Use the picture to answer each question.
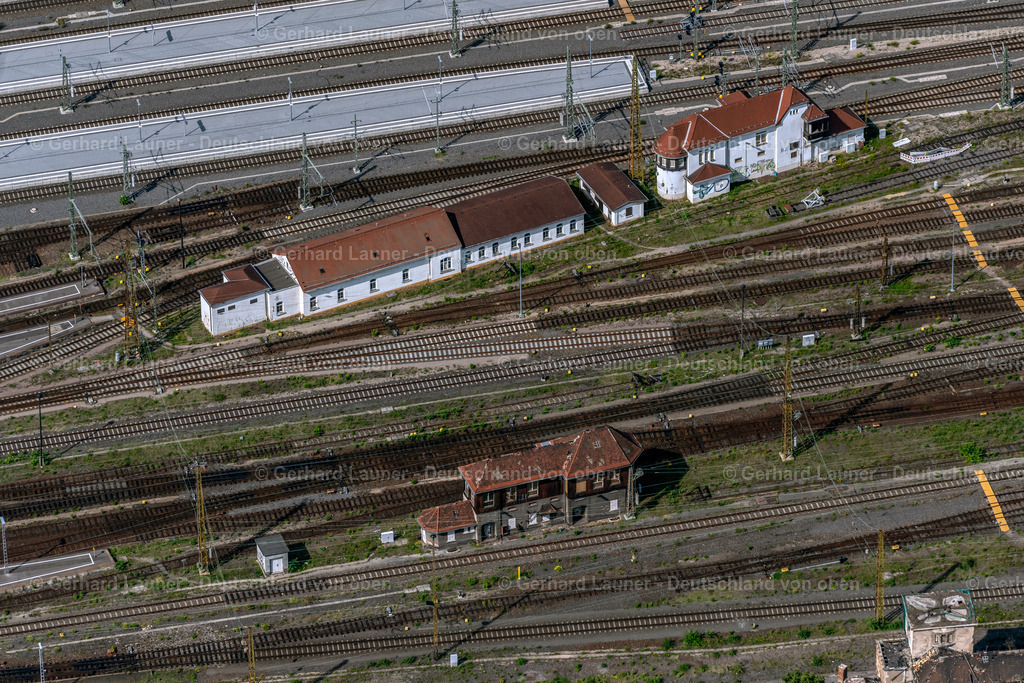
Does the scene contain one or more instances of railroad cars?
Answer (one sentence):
No, no railroad car can be seen from above.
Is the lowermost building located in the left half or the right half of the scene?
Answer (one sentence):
You can find the lowermost building on the right side of the picture.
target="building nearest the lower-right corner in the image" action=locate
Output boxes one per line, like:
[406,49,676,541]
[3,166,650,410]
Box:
[874,589,1024,683]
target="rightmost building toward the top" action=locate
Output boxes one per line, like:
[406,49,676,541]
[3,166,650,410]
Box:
[651,83,871,204]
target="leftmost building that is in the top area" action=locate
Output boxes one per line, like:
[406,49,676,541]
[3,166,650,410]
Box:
[194,177,589,336]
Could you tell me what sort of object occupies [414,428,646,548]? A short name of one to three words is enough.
building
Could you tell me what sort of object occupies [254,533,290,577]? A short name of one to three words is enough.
shed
